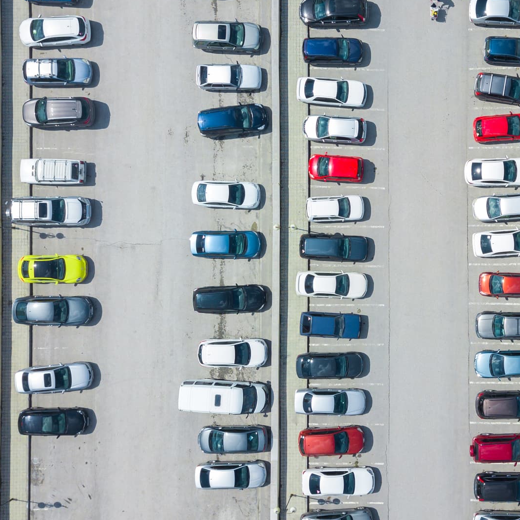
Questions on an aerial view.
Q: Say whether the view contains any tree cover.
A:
No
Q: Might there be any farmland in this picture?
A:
No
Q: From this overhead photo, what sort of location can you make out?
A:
parking lot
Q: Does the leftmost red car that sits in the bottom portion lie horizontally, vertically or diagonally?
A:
horizontally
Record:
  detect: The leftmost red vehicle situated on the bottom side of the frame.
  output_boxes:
[298,423,365,458]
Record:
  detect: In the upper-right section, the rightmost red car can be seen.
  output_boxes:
[473,110,520,145]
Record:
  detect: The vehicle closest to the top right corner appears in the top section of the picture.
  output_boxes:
[469,0,520,30]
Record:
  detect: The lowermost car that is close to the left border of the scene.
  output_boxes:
[16,405,90,439]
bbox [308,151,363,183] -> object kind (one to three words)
car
